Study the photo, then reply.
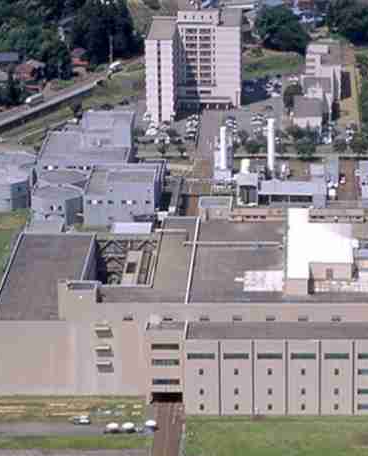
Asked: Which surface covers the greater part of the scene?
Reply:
buildings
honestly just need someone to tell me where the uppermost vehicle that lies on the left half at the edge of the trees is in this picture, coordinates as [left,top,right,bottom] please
[105,59,127,72]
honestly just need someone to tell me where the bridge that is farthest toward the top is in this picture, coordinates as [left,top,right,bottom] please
[0,80,105,134]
